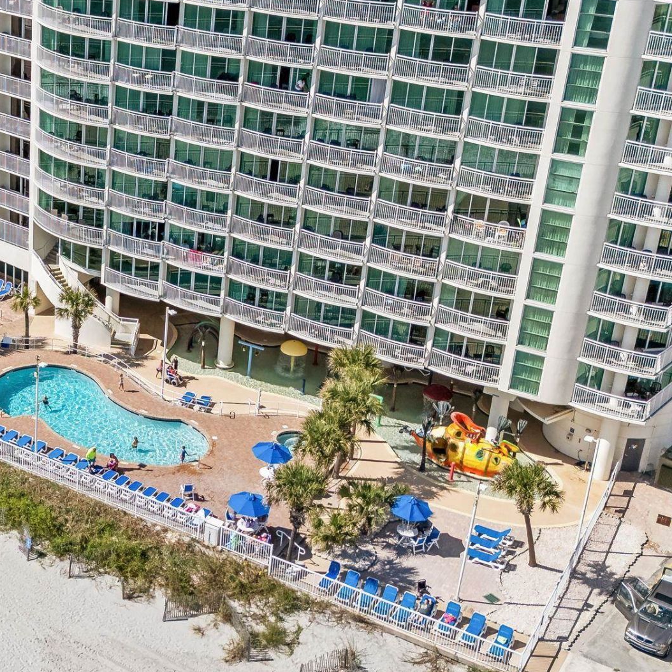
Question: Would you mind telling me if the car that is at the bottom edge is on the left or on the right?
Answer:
right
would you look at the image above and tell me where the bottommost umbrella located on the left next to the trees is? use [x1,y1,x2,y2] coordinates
[226,493,275,525]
